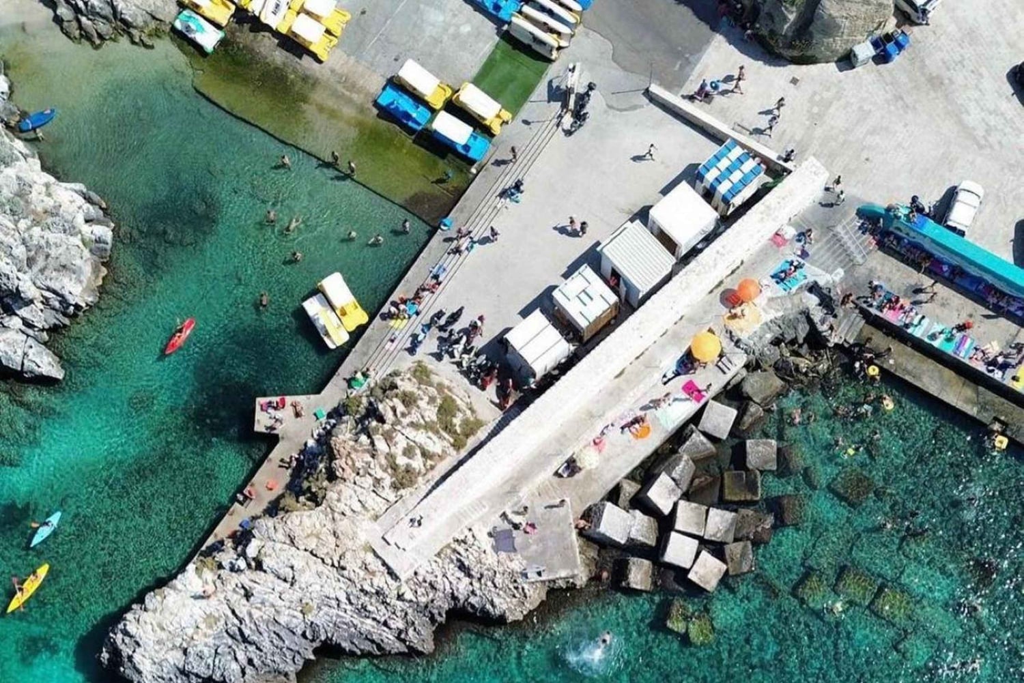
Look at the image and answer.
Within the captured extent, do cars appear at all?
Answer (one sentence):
Yes, a car can be made out from above.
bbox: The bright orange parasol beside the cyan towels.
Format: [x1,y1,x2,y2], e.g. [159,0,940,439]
[734,281,760,304]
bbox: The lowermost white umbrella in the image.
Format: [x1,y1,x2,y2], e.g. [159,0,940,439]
[574,444,600,471]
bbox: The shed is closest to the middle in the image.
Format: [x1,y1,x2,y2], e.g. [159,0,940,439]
[505,309,570,382]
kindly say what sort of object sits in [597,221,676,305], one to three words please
shed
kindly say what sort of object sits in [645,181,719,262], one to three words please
shed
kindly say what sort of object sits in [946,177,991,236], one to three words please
car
